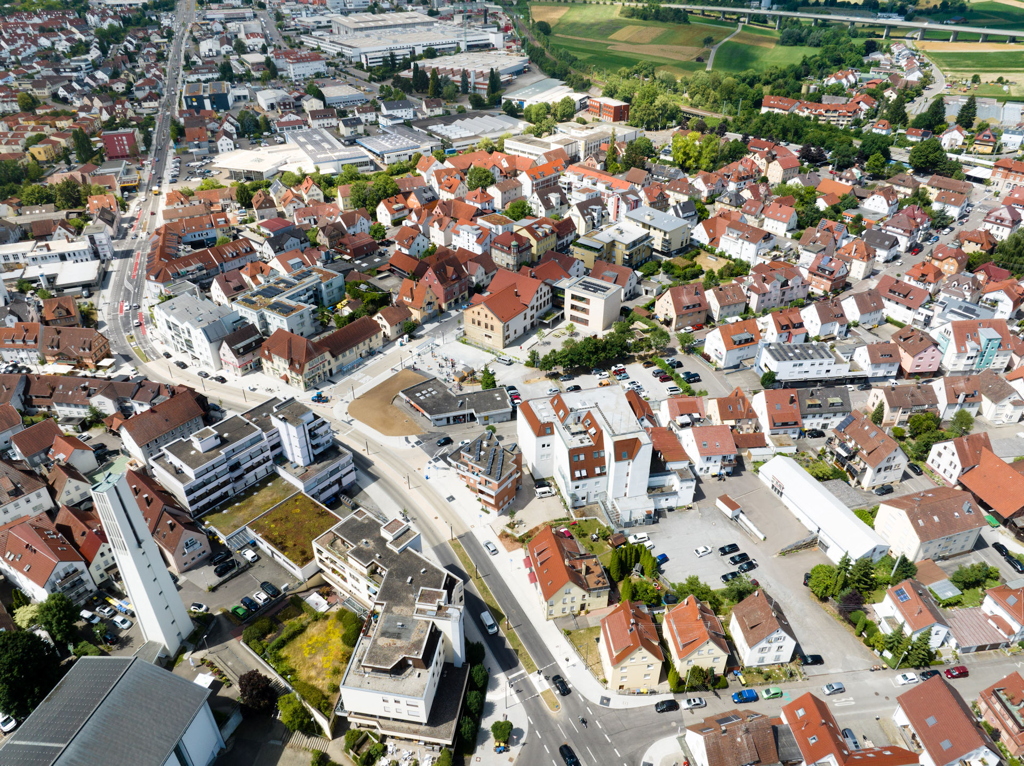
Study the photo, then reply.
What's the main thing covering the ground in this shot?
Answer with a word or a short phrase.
buildings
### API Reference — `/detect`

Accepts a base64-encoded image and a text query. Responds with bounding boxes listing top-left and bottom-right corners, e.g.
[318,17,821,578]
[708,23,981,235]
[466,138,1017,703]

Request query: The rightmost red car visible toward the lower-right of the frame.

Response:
[942,665,971,679]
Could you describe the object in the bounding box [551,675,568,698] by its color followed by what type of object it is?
black car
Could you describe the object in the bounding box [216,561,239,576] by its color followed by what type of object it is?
black car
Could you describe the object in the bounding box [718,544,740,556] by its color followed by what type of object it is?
black vehicle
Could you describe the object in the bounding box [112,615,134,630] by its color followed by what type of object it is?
white car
